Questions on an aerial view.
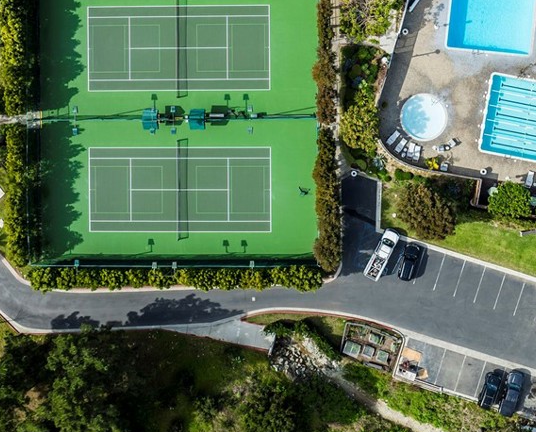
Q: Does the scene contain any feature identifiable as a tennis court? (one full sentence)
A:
Yes, a tennis court appears in the view.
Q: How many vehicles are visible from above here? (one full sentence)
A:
My tally gives 4 vehicles in this view.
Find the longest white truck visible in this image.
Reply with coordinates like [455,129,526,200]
[366,232,397,279]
